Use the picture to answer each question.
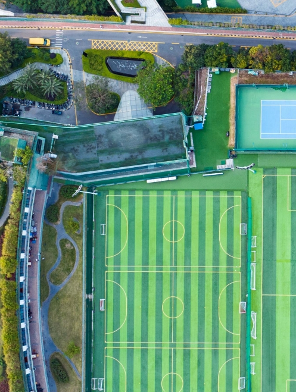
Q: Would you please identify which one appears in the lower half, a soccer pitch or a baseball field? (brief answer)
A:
soccer pitch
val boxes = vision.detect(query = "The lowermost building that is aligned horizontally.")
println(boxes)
[49,112,195,187]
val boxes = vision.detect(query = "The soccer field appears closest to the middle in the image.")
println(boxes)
[105,195,241,267]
